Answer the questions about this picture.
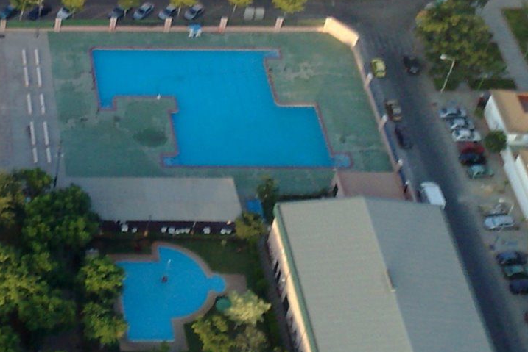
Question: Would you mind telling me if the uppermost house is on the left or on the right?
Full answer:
The uppermost house appears in the right half of the scene.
